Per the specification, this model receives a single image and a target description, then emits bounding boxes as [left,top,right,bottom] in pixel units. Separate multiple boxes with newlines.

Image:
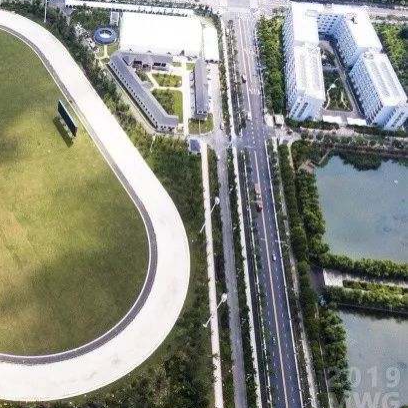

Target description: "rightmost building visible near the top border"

[281,1,408,127]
